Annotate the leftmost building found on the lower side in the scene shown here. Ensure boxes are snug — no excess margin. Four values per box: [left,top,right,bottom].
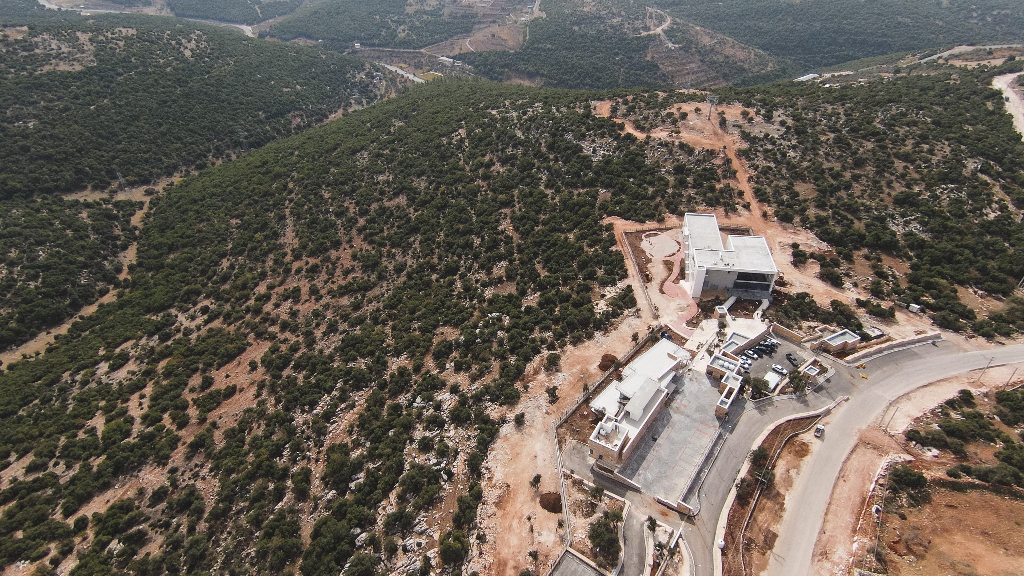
[588,336,682,468]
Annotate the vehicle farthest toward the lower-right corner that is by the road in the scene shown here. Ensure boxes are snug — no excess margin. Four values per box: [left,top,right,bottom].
[813,422,827,439]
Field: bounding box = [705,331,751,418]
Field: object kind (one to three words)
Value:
building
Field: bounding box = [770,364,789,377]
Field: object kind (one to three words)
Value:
vehicle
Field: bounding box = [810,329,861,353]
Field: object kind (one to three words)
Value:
house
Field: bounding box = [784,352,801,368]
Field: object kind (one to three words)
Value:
vehicle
